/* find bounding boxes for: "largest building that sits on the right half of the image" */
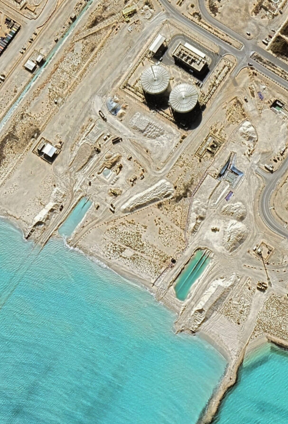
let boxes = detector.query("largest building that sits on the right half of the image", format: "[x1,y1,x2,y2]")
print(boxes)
[174,44,209,71]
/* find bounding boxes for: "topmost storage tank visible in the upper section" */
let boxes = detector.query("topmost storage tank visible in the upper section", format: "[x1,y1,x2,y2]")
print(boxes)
[139,64,171,97]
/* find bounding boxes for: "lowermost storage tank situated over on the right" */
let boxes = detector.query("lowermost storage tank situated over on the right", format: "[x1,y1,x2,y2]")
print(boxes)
[168,83,200,116]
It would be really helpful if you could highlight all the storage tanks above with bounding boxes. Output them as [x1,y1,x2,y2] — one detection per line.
[139,64,171,97]
[168,83,200,116]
